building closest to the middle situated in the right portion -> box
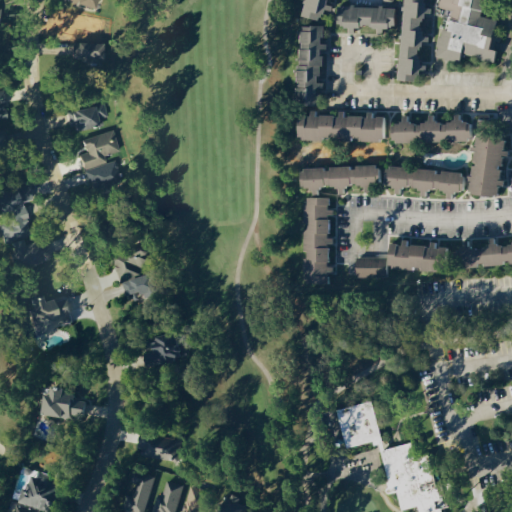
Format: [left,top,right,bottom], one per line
[302,197,334,288]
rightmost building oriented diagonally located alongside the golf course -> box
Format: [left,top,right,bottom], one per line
[338,402,443,512]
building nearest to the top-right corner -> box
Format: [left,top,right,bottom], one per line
[436,0,498,62]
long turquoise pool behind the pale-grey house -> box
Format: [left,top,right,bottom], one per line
[12,468,38,501]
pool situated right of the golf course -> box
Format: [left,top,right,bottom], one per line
[424,150,472,170]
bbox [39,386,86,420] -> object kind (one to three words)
house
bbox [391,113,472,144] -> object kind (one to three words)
building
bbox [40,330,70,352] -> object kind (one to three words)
swimming pool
